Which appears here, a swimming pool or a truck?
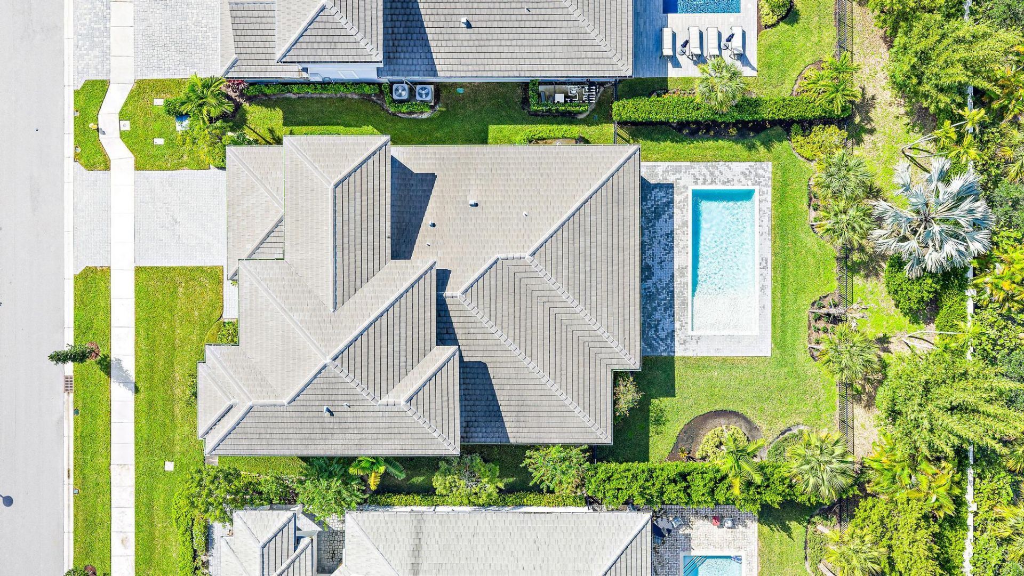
swimming pool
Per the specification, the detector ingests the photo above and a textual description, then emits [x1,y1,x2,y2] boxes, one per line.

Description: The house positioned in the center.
[196,133,643,457]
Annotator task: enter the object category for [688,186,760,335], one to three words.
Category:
swimming pool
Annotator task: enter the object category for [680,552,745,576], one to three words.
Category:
swimming pool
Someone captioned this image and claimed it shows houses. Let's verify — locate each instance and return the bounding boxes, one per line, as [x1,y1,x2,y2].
[218,0,635,84]
[196,133,643,457]
[219,504,654,576]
